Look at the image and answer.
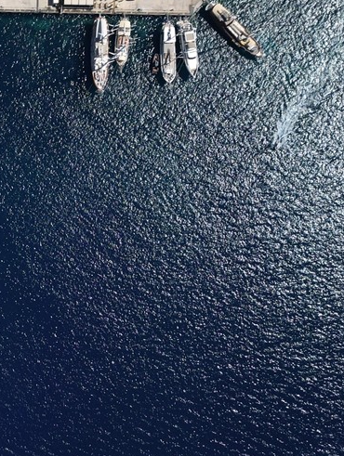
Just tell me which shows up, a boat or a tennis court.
boat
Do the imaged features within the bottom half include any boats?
No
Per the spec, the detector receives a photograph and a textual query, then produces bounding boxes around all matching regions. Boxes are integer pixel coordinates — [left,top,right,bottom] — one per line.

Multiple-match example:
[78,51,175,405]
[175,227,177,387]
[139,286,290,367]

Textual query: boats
[177,22,206,77]
[152,52,161,74]
[115,20,137,73]
[93,17,118,90]
[207,0,271,57]
[160,23,189,83]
